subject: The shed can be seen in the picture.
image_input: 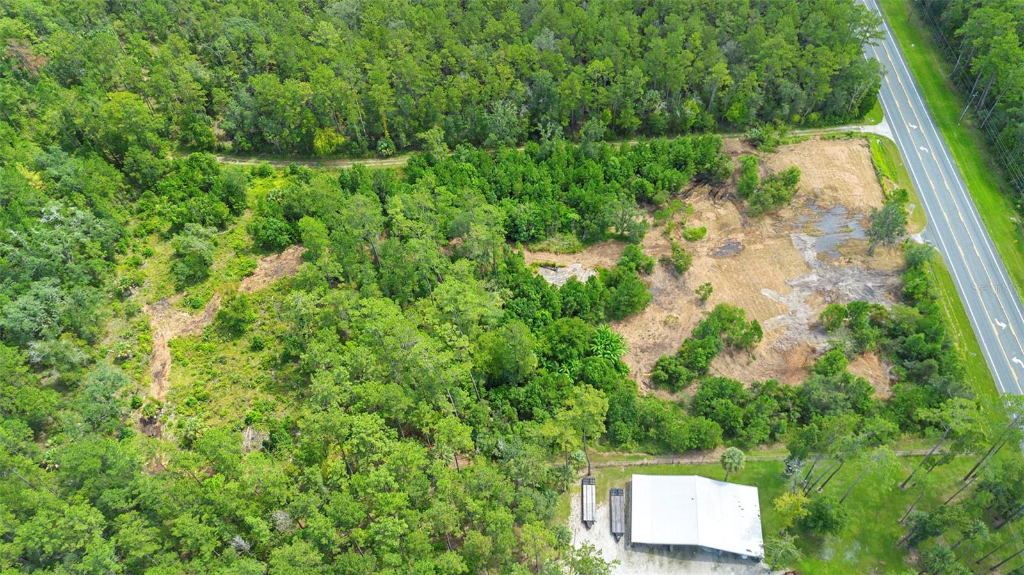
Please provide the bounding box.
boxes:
[631,475,765,562]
